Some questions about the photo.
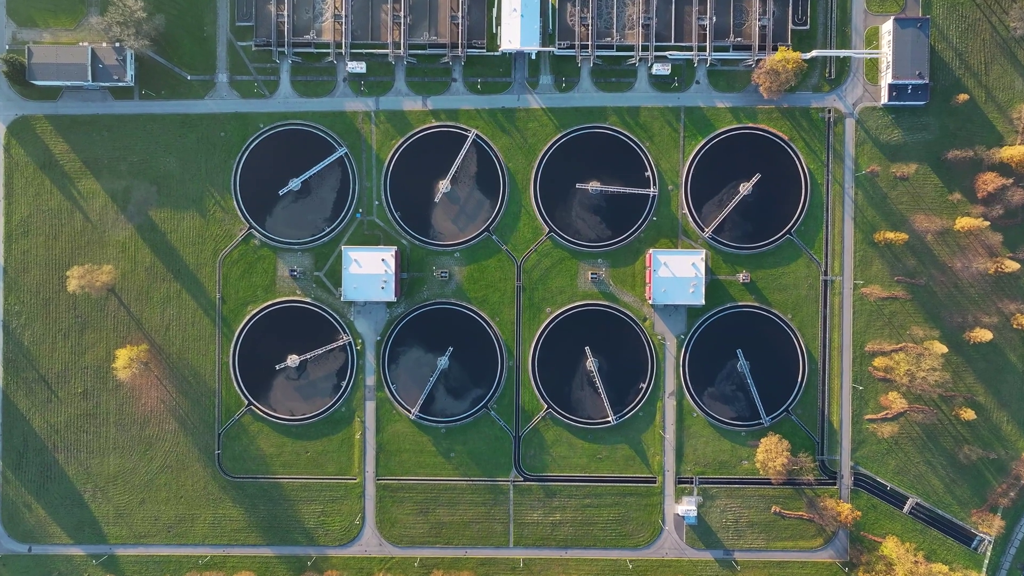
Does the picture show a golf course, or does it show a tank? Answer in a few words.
tank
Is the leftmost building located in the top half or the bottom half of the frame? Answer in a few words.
top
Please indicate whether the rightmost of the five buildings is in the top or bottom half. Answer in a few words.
top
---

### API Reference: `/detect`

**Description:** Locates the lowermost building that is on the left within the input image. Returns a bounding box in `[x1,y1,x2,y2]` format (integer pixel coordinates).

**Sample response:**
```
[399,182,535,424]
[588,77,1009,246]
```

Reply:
[340,246,402,304]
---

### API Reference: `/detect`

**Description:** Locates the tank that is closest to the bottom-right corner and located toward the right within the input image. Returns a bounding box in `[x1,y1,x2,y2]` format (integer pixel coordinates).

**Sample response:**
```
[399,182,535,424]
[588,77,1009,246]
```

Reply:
[678,301,809,432]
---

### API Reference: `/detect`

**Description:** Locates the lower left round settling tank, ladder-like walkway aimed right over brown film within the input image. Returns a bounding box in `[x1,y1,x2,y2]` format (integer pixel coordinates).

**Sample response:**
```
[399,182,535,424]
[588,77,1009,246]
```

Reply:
[229,296,359,426]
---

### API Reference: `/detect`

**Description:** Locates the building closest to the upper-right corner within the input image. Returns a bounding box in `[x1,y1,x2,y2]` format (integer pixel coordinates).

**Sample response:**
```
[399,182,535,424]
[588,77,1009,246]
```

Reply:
[879,16,930,106]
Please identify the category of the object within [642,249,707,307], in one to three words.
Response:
building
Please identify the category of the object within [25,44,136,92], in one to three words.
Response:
building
